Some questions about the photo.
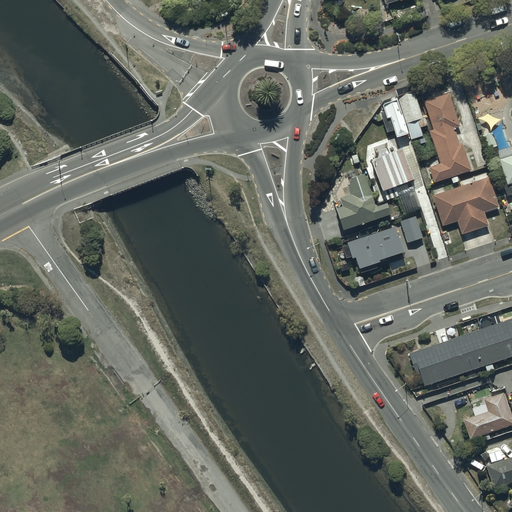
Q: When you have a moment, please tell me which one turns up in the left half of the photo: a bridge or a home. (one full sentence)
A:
It is a bridge that can be seen in the left half of the photo.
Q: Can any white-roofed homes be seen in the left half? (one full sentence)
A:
No, no white-roofed home is visible in the left half.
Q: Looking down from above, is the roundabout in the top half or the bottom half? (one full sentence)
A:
Seen from above, the roundabout lies in the top half of the view.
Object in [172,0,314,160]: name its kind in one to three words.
roundabout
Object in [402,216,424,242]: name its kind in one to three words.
building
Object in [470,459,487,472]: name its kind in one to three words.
vehicle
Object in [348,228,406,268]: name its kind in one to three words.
house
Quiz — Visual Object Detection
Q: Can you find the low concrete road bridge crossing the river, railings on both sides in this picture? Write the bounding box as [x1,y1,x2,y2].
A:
[22,110,214,208]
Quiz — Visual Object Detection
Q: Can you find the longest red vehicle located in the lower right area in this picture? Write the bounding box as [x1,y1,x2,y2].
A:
[372,392,385,408]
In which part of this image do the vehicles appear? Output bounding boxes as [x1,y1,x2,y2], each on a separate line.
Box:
[372,392,385,408]
[382,76,398,85]
[443,302,459,311]
[470,459,487,472]
[264,61,284,70]
[338,84,354,93]
[359,323,374,332]
[492,18,509,27]
[222,44,236,52]
[294,28,301,44]
[309,257,318,273]
[293,126,300,140]
[296,89,304,105]
[448,20,463,28]
[500,249,512,258]
[501,444,512,458]
[174,38,190,47]
[378,316,394,324]
[294,2,301,18]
